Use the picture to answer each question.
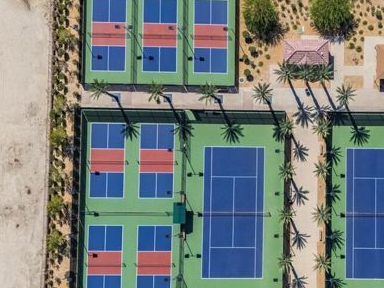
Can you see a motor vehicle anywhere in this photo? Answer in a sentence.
No, no motor vehicle can be seen from above.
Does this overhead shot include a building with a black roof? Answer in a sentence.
No, no building with a black roof can be seen from above.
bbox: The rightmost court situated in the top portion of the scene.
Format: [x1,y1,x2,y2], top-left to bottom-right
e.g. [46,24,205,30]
[186,0,236,85]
